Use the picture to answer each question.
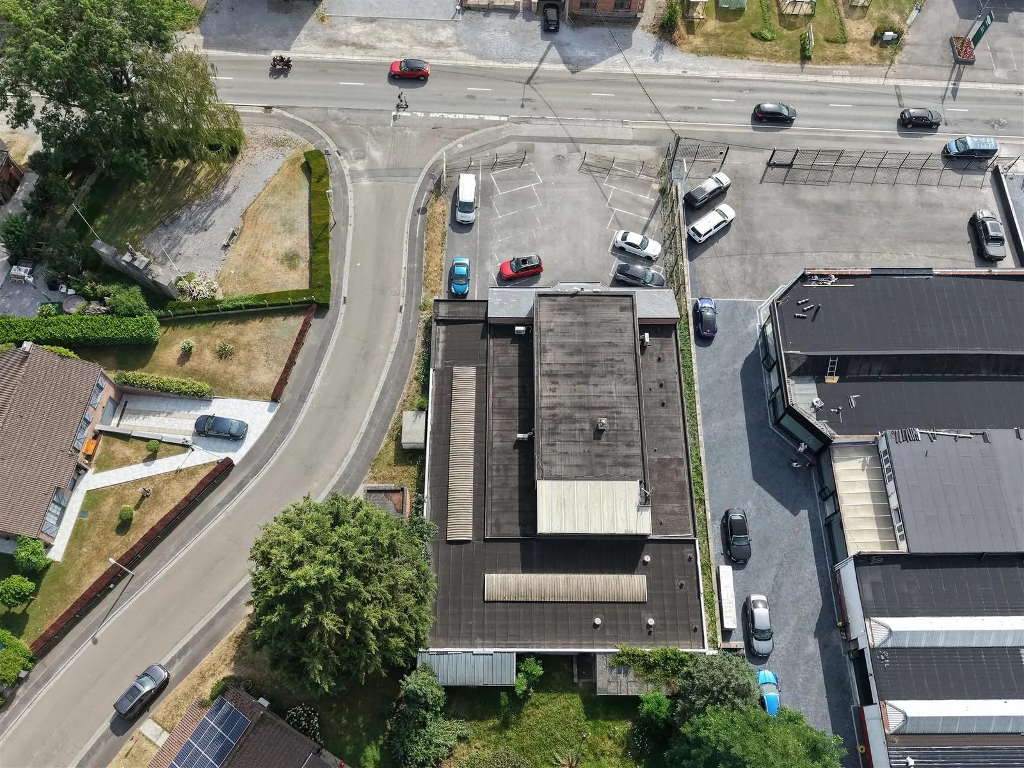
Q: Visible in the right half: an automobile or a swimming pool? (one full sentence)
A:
The feature located in the right half is an automobile.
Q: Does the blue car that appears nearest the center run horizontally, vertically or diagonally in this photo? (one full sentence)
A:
The blue car that appears nearest the center has been laid out vertically relative to the frame.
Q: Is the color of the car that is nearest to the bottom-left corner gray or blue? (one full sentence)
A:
From above, the car that is nearest to the bottom-left corner appears gray.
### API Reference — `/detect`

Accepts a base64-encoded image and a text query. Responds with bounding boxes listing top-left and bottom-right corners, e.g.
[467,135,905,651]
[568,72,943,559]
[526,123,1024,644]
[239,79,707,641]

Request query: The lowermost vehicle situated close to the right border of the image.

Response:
[973,210,1005,258]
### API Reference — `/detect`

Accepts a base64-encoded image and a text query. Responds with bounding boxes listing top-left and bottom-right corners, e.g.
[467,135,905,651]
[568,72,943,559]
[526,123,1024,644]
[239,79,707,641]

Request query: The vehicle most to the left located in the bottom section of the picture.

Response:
[115,666,168,717]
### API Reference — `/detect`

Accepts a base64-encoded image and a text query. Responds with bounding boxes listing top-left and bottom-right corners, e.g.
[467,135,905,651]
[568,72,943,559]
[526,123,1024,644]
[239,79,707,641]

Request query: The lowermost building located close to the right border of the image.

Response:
[834,555,1024,768]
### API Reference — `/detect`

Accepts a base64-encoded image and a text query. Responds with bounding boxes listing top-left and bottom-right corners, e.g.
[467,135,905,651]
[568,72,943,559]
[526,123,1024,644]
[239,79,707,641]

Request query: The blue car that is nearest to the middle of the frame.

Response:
[449,258,470,298]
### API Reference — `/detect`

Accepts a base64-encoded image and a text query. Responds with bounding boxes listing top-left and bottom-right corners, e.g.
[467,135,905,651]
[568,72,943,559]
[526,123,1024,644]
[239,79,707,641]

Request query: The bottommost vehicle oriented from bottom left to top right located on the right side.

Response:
[687,205,737,244]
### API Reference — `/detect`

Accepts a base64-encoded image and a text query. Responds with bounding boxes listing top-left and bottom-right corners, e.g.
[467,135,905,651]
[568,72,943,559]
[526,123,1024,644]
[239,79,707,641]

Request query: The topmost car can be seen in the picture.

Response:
[542,3,560,30]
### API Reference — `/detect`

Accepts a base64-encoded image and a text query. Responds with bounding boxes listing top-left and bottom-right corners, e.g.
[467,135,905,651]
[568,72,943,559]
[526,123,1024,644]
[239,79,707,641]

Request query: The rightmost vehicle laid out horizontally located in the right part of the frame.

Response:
[942,131,1005,160]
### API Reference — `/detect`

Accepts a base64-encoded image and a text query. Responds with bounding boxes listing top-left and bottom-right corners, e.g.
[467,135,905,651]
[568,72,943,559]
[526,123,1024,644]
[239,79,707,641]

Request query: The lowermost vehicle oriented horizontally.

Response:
[194,413,248,441]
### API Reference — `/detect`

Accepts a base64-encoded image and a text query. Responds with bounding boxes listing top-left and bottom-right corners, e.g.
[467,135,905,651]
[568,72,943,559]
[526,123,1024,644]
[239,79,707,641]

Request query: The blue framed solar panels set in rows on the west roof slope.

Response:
[170,695,251,768]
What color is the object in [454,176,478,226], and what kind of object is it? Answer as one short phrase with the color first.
white vehicle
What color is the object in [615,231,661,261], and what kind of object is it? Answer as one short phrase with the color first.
white car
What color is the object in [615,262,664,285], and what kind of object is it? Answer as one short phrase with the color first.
gray car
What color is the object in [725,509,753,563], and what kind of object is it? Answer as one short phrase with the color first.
black car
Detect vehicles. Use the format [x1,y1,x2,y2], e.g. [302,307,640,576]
[756,667,782,716]
[687,205,737,244]
[682,173,732,210]
[194,413,248,441]
[746,596,776,656]
[973,210,1005,258]
[454,176,478,226]
[499,254,544,280]
[615,262,664,285]
[899,105,942,129]
[942,131,1005,160]
[542,3,560,30]
[449,258,470,298]
[752,102,796,125]
[725,509,753,563]
[695,298,718,337]
[615,231,661,261]
[115,666,168,717]
[390,57,431,80]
